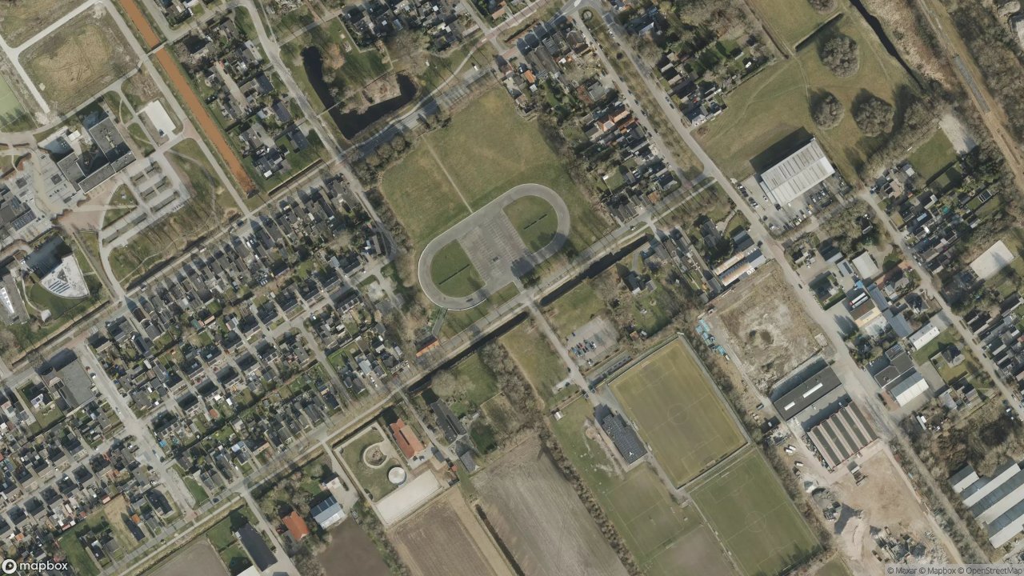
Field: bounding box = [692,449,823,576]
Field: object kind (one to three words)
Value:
soccer field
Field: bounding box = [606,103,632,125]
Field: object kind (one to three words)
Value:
house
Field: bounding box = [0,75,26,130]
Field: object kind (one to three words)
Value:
soccer field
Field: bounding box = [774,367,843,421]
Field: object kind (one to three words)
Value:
building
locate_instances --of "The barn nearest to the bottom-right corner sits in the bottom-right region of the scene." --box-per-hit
[982,503,1024,547]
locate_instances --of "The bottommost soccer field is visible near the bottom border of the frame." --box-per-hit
[650,516,742,576]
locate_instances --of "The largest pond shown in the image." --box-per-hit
[303,47,416,139]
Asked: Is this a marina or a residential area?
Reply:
residential area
